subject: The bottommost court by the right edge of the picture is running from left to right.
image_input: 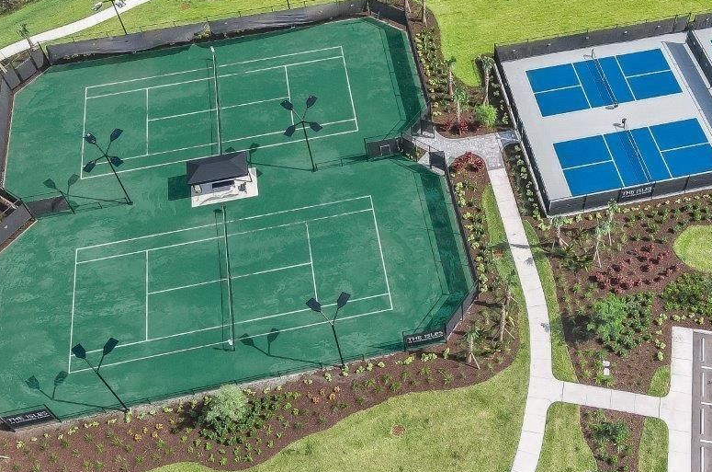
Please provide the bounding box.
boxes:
[552,117,712,196]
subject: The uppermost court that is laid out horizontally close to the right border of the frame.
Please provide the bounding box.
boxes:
[525,48,684,117]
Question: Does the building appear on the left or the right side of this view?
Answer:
left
